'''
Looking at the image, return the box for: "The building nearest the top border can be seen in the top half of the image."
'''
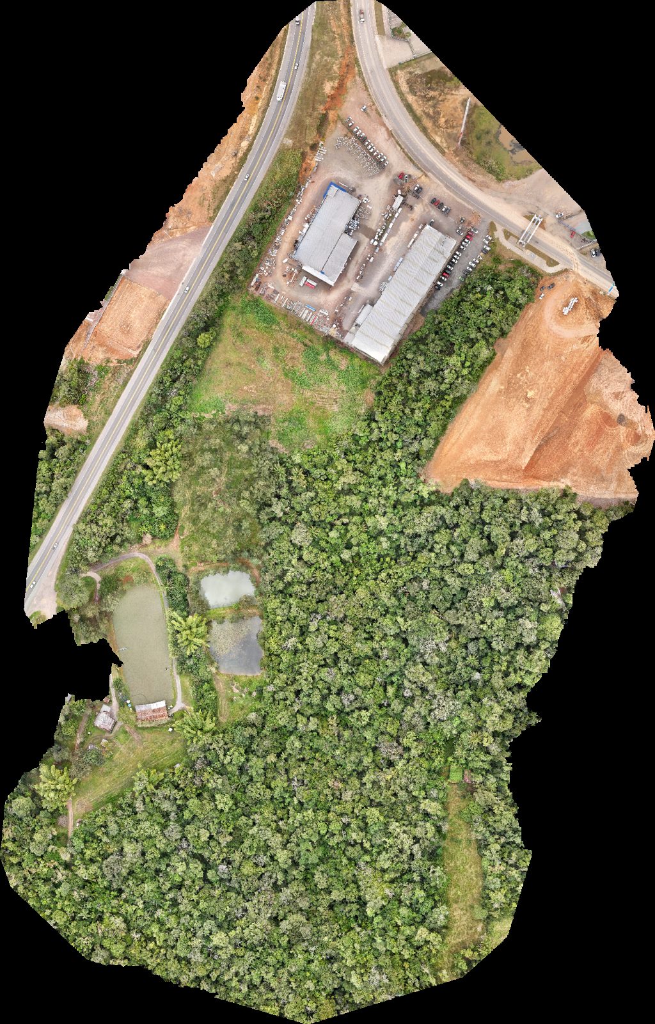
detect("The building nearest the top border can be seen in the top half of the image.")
[293,181,361,286]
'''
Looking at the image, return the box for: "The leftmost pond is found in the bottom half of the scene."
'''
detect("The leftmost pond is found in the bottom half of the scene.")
[113,585,172,706]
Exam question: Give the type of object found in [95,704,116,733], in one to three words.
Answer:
house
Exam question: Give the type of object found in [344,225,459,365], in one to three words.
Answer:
building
